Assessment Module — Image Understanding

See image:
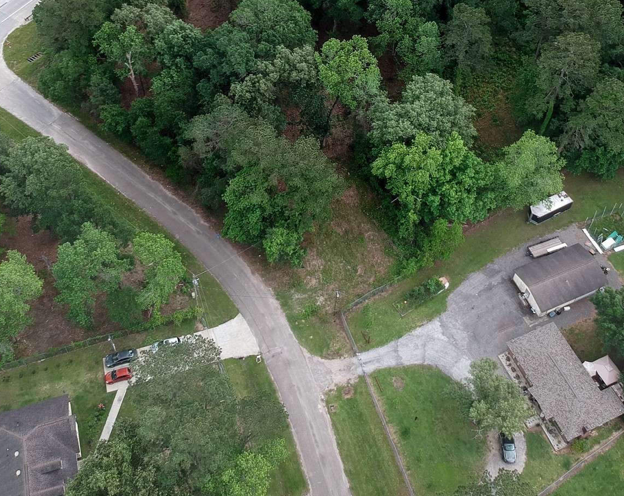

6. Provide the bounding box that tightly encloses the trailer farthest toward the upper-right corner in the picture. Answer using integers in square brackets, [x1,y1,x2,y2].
[522,191,573,222]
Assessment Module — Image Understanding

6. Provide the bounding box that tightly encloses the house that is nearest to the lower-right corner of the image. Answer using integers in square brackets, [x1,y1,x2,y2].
[506,322,624,447]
